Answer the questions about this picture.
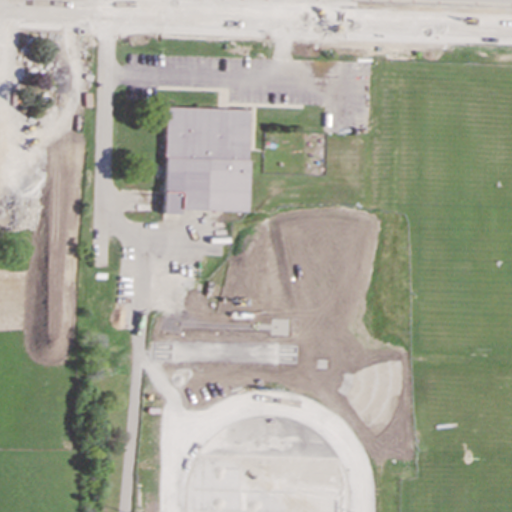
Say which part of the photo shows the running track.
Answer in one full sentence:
You can find the running track in the bottom area of the picture.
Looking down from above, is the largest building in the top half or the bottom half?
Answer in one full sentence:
The largest building is in the top half of the image.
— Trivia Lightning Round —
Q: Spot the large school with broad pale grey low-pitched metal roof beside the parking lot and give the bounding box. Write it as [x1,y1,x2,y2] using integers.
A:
[162,106,252,213]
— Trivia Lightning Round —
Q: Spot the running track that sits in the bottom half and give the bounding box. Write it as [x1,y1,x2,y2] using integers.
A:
[162,394,374,512]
